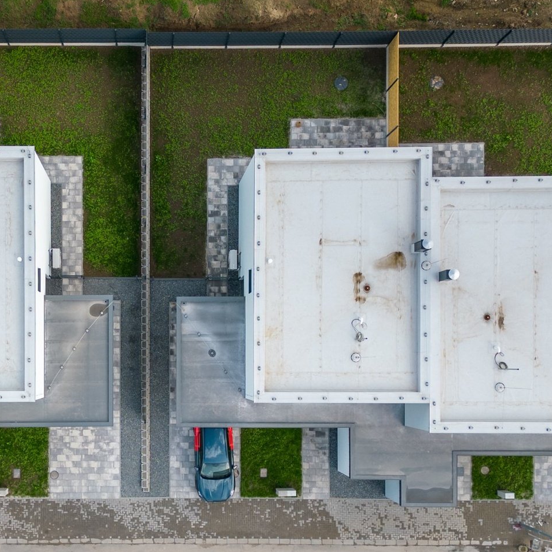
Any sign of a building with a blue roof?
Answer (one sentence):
No, I can see no building with a blue roof in this picture.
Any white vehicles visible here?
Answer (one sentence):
No, no white vehicle is visible in the view.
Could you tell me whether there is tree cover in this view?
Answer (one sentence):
No, there's no tree cover in this view.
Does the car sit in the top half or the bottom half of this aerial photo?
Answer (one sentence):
You can find the car in the bottom half.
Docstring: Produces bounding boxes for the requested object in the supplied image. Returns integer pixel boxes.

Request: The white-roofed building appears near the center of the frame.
[176,149,447,479]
